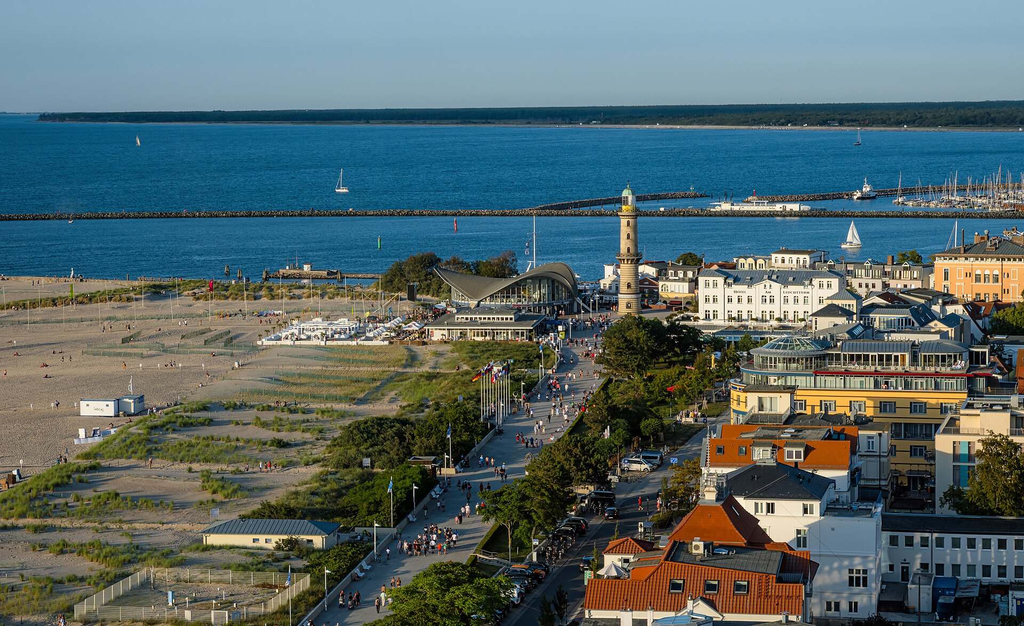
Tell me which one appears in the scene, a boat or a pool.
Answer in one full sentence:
The image shows a boat.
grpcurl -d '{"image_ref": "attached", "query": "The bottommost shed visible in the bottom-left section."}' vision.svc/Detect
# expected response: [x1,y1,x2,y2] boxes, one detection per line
[197,517,347,549]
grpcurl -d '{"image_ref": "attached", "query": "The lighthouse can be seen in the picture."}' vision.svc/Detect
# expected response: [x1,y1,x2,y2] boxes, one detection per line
[615,181,641,314]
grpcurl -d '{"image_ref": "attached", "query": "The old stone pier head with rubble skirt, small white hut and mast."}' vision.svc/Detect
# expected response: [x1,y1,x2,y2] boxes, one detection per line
[268,251,386,280]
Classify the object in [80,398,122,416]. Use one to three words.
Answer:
building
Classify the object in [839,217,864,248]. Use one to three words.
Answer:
boat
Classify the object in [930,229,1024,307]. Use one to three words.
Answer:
building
